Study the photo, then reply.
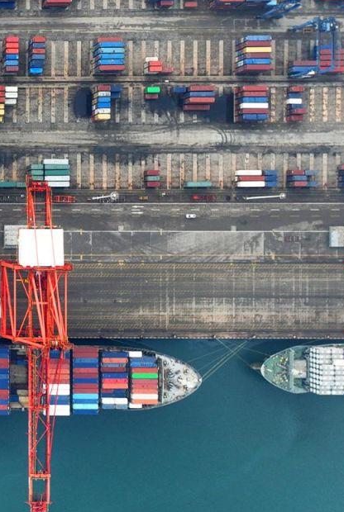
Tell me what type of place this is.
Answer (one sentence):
It's a port.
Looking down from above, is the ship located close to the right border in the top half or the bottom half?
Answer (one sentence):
The bottom half of the photo is where the ship located close to the right border is.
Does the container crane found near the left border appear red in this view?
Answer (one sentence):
Yes, the container crane found near the left border is indeed red.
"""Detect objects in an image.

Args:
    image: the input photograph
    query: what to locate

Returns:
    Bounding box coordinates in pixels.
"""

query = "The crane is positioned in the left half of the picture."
[0,181,74,512]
